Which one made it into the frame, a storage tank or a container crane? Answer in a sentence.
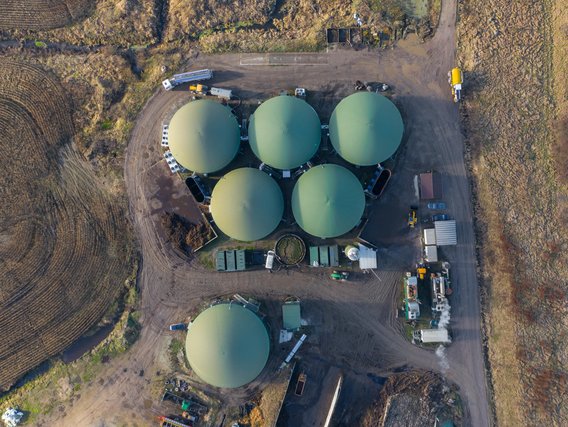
There is a storage tank in the scene.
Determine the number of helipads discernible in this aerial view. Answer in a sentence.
I count no helipads.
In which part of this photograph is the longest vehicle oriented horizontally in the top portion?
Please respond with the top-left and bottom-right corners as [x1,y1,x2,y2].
[163,68,216,92]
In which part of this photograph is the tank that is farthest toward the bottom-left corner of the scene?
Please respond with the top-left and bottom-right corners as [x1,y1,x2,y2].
[186,300,270,388]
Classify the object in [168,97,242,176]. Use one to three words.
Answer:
storage tank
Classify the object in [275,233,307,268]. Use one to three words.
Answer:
storage tank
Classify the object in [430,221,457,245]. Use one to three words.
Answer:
shed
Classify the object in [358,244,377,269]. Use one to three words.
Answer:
shed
